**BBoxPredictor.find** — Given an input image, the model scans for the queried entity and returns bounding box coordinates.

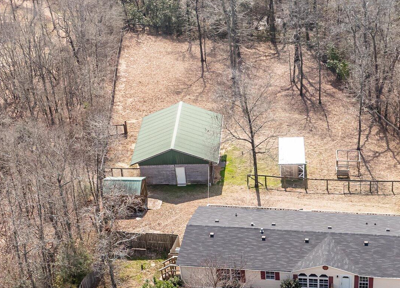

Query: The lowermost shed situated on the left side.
[104,179,147,207]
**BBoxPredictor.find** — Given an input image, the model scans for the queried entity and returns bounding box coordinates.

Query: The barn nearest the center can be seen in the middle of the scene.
[132,97,228,188]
